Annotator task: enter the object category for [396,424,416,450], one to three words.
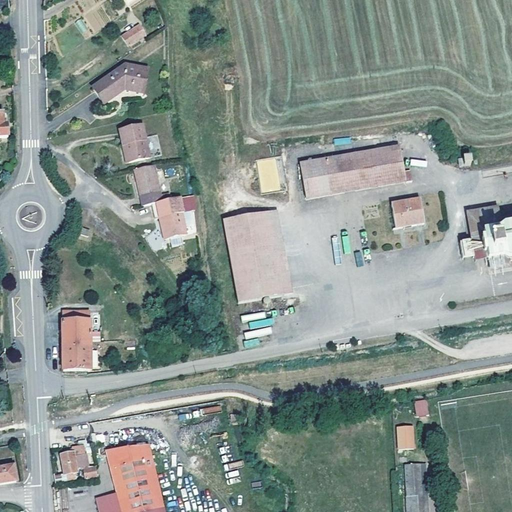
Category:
shed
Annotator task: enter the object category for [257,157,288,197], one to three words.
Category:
building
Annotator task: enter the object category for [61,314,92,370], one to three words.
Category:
house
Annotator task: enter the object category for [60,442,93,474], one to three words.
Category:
house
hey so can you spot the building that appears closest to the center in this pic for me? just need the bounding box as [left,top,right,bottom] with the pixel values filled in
[222,209,292,306]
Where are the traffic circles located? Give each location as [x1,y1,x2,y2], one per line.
[16,202,46,232]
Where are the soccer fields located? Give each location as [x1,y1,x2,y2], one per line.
[443,392,512,512]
